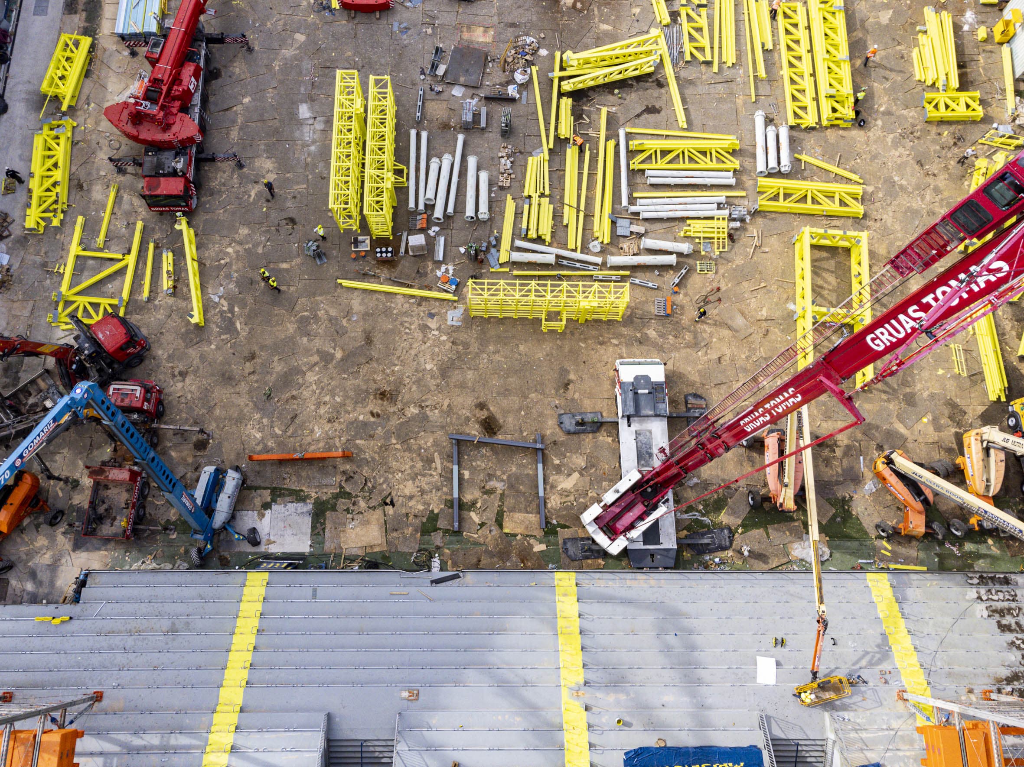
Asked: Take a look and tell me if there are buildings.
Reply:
No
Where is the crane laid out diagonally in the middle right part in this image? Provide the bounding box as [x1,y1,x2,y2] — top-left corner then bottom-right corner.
[573,147,1024,570]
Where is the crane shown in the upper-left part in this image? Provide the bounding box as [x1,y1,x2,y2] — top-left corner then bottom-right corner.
[102,0,254,212]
